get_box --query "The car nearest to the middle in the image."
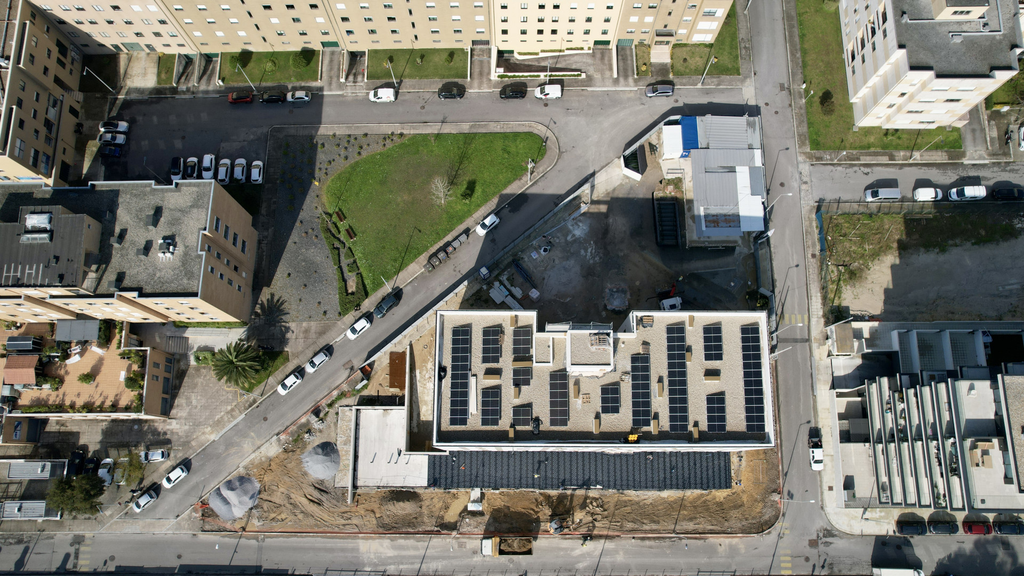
[475,213,500,236]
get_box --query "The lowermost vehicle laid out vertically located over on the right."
[807,428,825,471]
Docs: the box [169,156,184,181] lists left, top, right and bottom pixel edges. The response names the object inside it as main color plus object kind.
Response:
black car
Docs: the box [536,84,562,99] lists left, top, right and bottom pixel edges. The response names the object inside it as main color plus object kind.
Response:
white vehicle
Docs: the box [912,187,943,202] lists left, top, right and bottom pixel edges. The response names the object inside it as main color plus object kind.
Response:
white vehicle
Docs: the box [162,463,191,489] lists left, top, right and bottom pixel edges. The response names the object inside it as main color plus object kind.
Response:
white car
